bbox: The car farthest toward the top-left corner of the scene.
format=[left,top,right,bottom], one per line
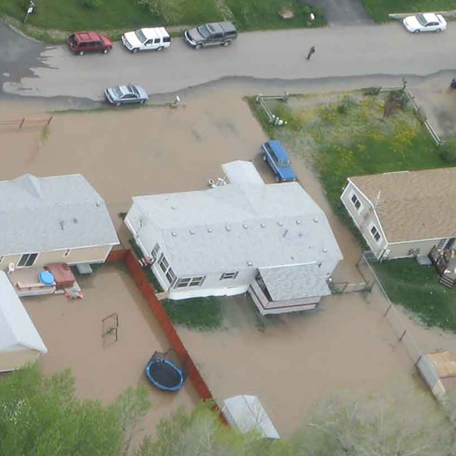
[66,29,115,55]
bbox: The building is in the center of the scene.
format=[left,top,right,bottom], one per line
[124,157,344,314]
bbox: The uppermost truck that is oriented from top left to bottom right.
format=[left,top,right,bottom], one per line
[254,136,300,182]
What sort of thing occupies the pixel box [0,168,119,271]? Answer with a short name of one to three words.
house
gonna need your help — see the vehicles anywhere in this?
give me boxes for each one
[66,29,115,55]
[120,24,172,51]
[182,20,240,47]
[100,83,150,107]
[254,136,300,182]
[401,12,447,33]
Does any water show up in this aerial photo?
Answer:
Yes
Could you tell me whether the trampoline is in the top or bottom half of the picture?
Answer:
bottom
